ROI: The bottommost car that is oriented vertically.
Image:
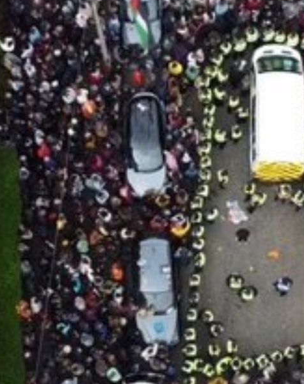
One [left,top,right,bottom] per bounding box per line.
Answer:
[133,237,184,346]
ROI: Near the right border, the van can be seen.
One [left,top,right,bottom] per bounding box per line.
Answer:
[247,46,304,184]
